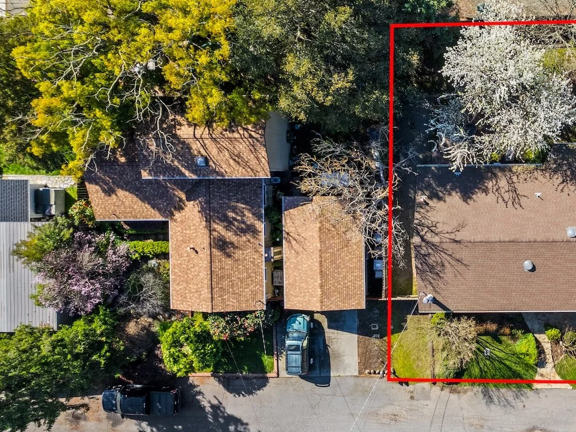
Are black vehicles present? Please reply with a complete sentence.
Yes, the image includes a black vehicle.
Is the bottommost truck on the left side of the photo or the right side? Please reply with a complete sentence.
The bottommost truck sits on the left side.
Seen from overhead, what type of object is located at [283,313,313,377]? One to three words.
truck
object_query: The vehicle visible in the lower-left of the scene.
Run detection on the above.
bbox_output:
[106,383,183,416]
